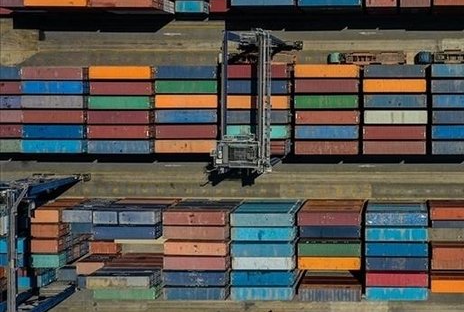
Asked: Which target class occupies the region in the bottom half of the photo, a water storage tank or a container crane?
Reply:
container crane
